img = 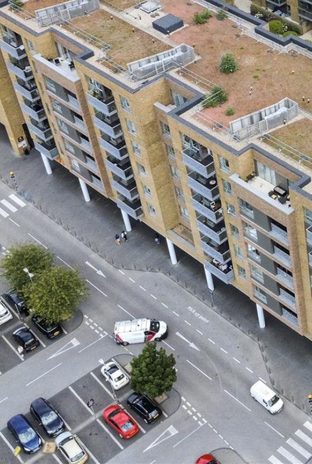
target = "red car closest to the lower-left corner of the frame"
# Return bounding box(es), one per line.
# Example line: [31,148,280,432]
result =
[99,401,142,443]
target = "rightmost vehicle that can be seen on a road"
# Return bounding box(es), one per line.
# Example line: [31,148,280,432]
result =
[245,375,289,419]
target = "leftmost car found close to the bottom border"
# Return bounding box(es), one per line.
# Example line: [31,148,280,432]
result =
[3,410,46,455]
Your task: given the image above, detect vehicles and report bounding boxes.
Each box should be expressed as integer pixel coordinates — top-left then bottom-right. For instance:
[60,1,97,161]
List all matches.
[3,410,46,455]
[113,315,169,347]
[8,322,42,354]
[53,427,91,464]
[125,390,163,426]
[99,401,142,443]
[98,358,134,392]
[27,311,65,343]
[26,393,67,437]
[245,375,289,419]
[3,287,34,317]
[0,297,14,326]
